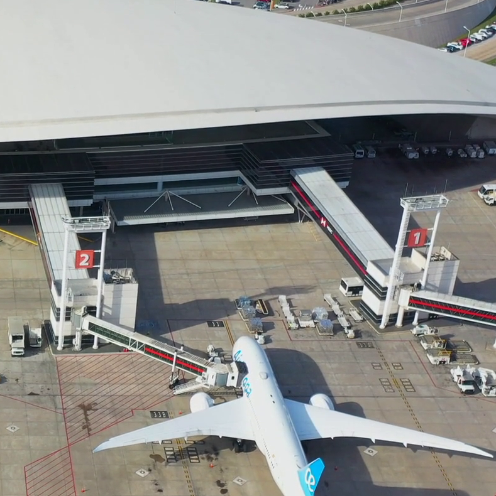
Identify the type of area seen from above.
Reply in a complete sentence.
It's an airport.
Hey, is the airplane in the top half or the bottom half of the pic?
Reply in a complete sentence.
You can find the airplane in the bottom half.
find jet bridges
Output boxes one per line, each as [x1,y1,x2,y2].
[71,307,256,403]
[396,284,496,358]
